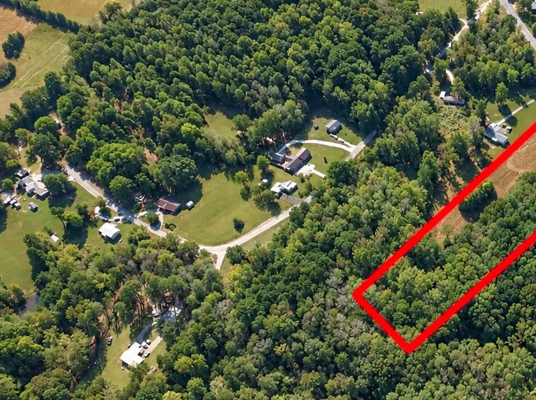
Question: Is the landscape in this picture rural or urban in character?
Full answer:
The land in this view is best described as rural.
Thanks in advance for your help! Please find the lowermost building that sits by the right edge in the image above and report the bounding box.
[484,125,510,145]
